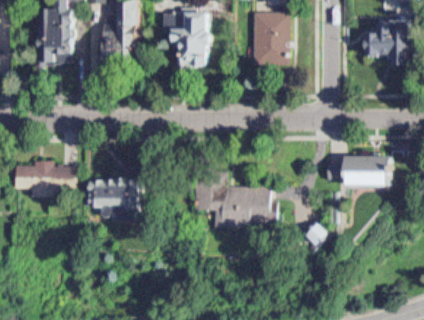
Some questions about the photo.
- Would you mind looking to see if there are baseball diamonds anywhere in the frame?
No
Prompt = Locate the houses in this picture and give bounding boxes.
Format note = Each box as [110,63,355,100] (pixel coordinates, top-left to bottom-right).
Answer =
[87,176,142,218]
[44,0,78,64]
[163,7,214,68]
[382,0,411,12]
[340,156,394,188]
[113,0,141,55]
[362,18,412,66]
[196,172,280,226]
[14,160,78,198]
[254,12,293,66]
